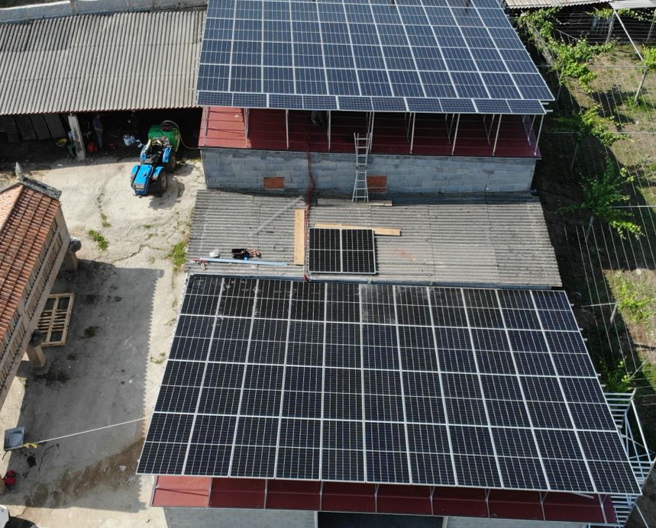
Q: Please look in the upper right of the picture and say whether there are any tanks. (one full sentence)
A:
No, looking in the upper right of the picture, there is no tank.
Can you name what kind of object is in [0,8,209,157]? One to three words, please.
shed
